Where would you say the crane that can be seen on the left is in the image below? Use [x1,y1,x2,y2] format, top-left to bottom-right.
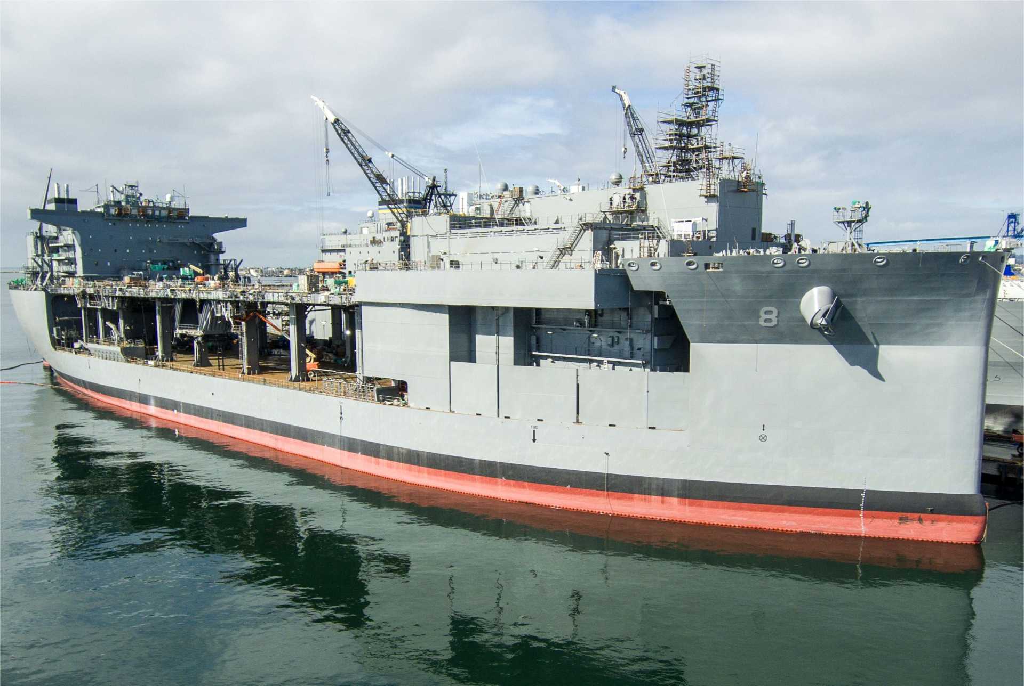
[310,94,458,270]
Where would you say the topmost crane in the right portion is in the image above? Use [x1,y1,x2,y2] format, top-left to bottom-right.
[608,82,672,185]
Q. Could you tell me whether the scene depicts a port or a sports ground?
port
